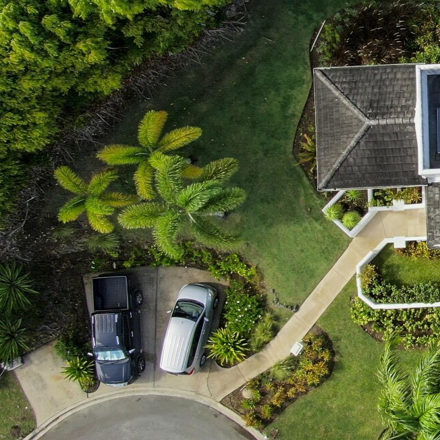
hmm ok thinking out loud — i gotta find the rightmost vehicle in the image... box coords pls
[164,279,228,380]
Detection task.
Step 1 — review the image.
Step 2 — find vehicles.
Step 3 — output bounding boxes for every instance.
[89,261,153,384]
[164,279,228,380]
